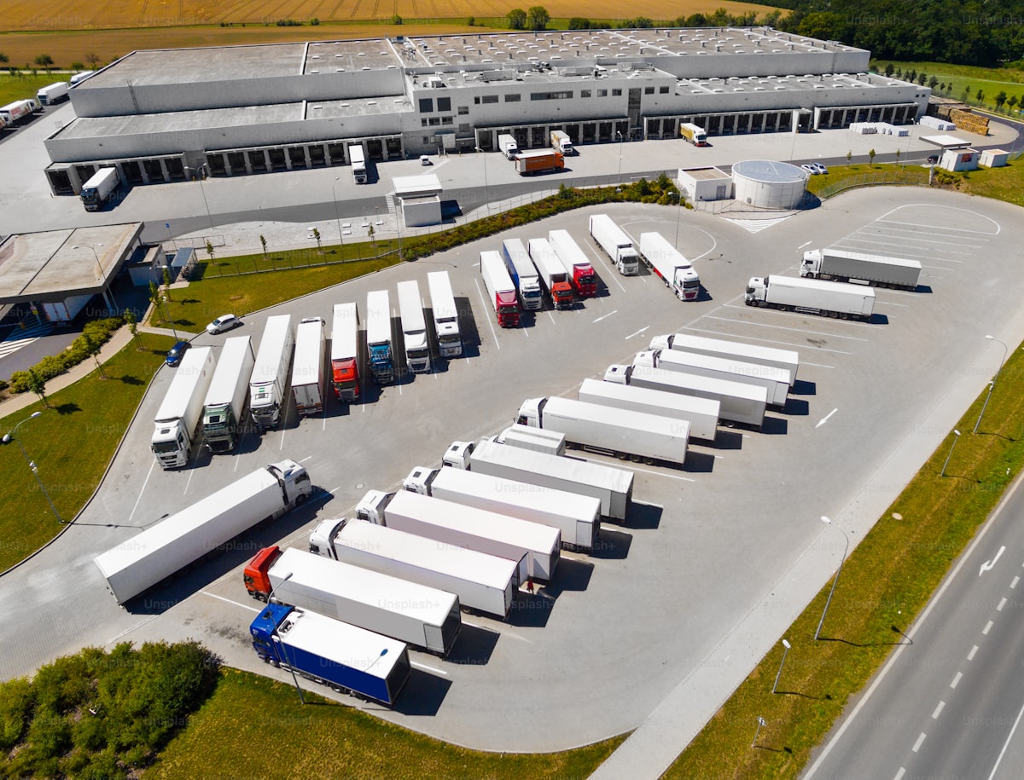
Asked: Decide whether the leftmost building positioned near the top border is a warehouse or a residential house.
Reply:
warehouse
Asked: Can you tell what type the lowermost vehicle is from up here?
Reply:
truck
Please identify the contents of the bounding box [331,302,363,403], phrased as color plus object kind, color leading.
white truck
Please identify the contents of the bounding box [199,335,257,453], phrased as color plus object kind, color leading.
white truck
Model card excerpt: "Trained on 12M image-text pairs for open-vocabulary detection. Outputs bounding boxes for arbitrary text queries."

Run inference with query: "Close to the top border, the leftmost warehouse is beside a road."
[41,23,932,196]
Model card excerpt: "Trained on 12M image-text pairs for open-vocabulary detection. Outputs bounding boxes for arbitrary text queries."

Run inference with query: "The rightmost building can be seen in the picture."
[979,149,1009,166]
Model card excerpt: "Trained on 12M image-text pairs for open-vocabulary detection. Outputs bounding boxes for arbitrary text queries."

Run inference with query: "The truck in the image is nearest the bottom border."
[241,605,412,709]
